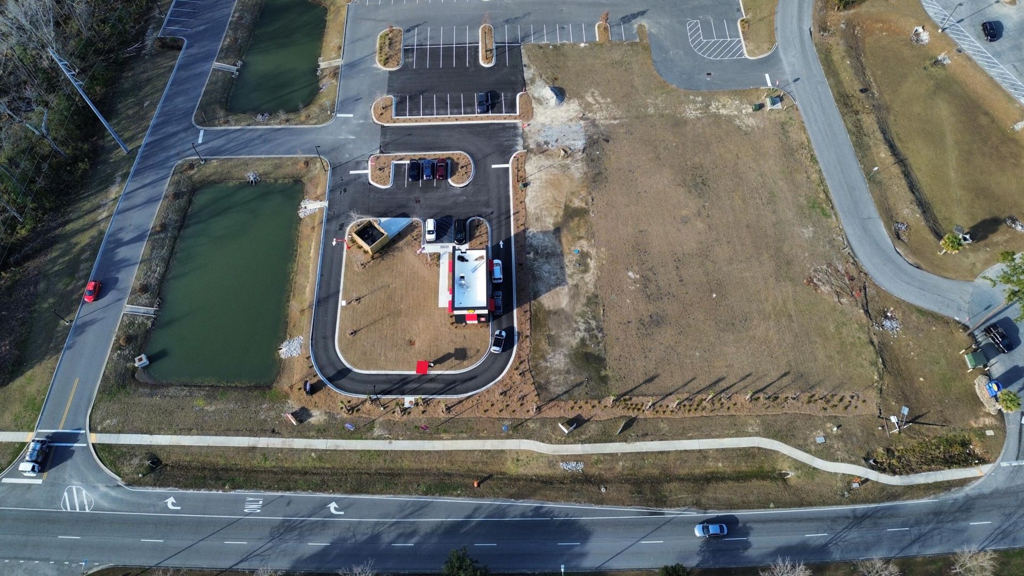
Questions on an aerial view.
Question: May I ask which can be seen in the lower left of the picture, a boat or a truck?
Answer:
truck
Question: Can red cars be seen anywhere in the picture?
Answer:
Yes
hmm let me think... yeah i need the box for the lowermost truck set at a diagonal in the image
[17,430,59,480]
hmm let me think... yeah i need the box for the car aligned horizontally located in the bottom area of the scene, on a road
[695,523,730,540]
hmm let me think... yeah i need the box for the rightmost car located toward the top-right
[984,21,1001,40]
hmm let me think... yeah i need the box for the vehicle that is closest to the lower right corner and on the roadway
[985,321,1018,356]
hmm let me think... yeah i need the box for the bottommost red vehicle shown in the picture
[82,278,102,304]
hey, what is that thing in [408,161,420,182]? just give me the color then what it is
black vehicle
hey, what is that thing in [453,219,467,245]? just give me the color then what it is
black car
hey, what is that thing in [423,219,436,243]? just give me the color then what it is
white vehicle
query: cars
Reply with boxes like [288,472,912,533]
[82,278,102,304]
[436,160,447,180]
[984,21,1001,40]
[491,329,507,357]
[492,262,504,286]
[478,93,489,114]
[408,161,420,182]
[453,219,467,245]
[423,219,436,243]
[695,523,730,540]
[422,161,433,180]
